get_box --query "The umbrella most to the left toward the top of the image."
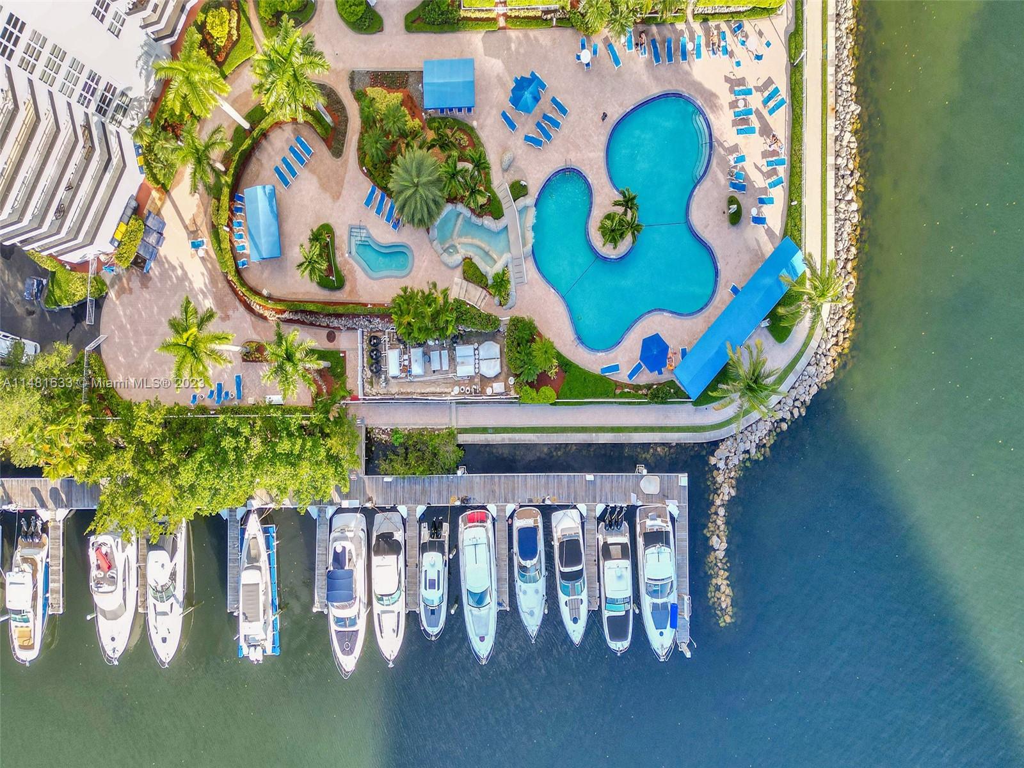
[508,75,543,112]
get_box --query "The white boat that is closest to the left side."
[6,510,52,669]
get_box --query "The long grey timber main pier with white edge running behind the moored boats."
[268,473,689,510]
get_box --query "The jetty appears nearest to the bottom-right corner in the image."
[675,510,689,642]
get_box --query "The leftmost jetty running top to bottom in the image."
[48,511,69,614]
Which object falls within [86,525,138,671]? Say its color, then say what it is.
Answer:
white boat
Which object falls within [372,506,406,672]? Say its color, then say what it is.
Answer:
white boat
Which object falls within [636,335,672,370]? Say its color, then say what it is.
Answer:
blue umbrella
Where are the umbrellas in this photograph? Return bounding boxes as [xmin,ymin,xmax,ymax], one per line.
[508,75,543,112]
[636,335,672,370]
